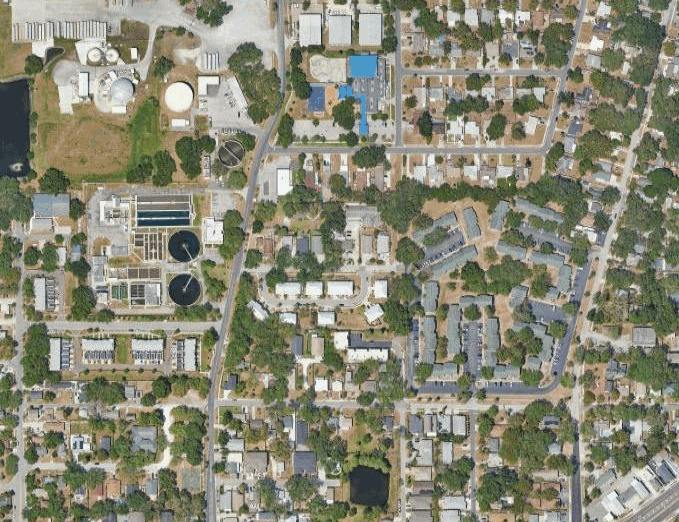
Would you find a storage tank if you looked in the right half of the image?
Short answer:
No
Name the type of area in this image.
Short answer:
residential area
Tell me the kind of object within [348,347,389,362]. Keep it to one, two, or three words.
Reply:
house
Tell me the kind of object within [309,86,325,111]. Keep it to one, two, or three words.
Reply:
sports court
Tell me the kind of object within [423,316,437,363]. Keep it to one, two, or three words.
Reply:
building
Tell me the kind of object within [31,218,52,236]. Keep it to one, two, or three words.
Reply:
house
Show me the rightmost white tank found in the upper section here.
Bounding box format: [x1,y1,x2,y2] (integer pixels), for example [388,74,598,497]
[164,82,194,111]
